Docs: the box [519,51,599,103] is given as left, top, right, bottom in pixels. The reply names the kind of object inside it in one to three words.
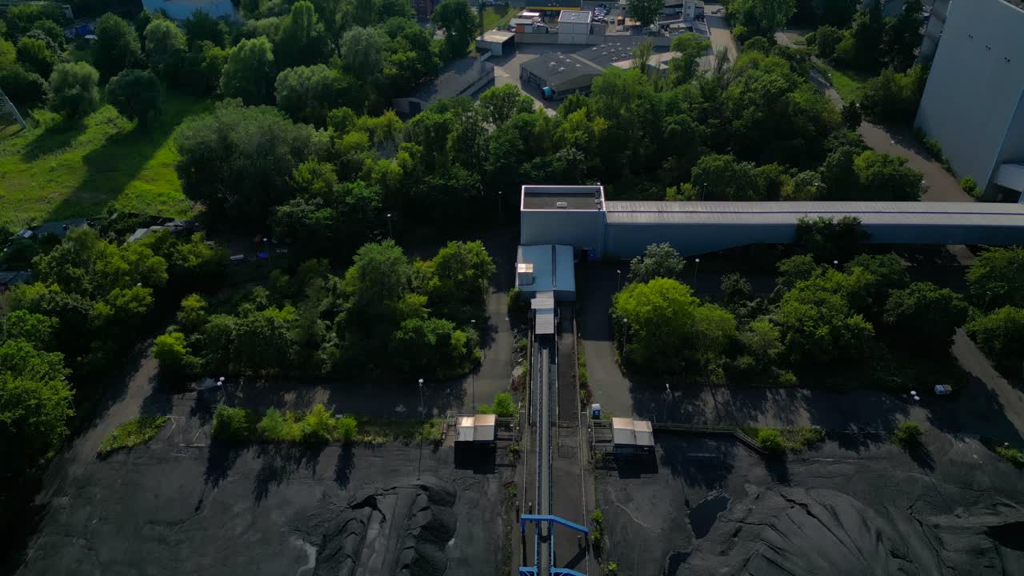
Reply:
building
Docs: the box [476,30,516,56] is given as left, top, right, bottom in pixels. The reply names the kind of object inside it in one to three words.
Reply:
shed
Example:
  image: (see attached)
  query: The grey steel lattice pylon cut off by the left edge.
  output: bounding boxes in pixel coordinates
[0,88,26,138]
